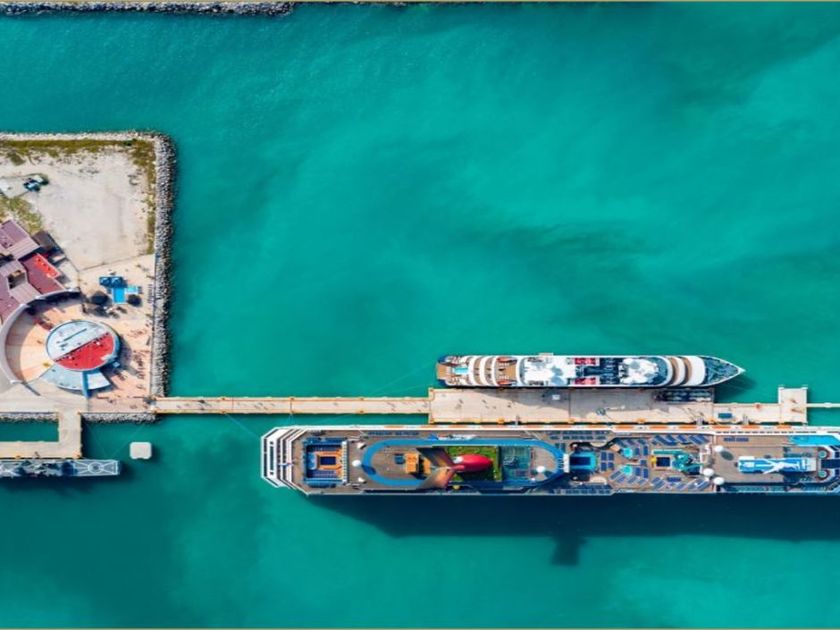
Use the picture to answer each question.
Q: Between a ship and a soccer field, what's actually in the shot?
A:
ship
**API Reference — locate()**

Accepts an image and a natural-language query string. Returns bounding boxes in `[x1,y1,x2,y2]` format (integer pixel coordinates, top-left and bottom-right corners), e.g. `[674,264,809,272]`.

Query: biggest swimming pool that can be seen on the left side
[113,286,126,304]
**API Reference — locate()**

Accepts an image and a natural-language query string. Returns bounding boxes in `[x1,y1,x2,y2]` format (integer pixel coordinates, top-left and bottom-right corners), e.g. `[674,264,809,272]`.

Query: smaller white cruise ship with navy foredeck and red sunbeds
[436,352,746,386]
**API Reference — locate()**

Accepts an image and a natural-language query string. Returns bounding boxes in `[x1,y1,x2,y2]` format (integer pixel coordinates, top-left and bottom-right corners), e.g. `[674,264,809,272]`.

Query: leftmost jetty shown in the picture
[0,412,84,458]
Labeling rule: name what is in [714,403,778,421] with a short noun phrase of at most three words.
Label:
pier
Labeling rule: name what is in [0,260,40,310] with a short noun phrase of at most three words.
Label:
building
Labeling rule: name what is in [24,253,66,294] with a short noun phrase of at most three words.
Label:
building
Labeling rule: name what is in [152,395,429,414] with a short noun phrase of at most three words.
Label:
pier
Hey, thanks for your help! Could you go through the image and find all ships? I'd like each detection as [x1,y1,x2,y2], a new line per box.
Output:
[436,352,746,386]
[0,459,120,478]
[260,424,840,495]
